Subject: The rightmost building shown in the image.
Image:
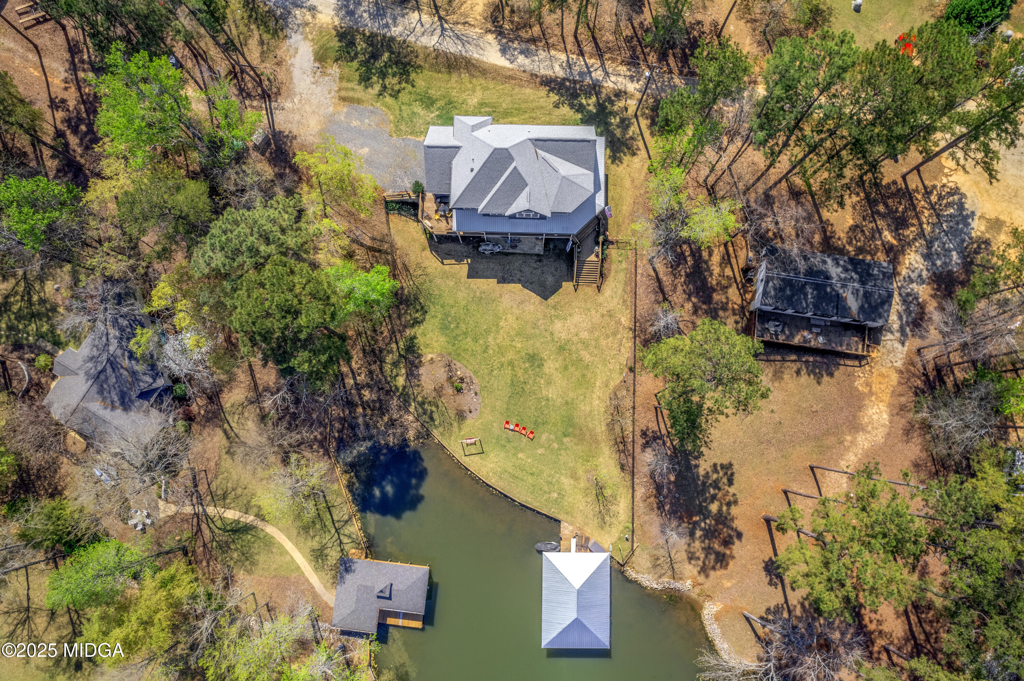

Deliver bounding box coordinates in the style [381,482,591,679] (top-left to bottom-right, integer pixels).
[739,246,895,361]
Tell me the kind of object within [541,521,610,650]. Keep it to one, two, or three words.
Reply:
building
